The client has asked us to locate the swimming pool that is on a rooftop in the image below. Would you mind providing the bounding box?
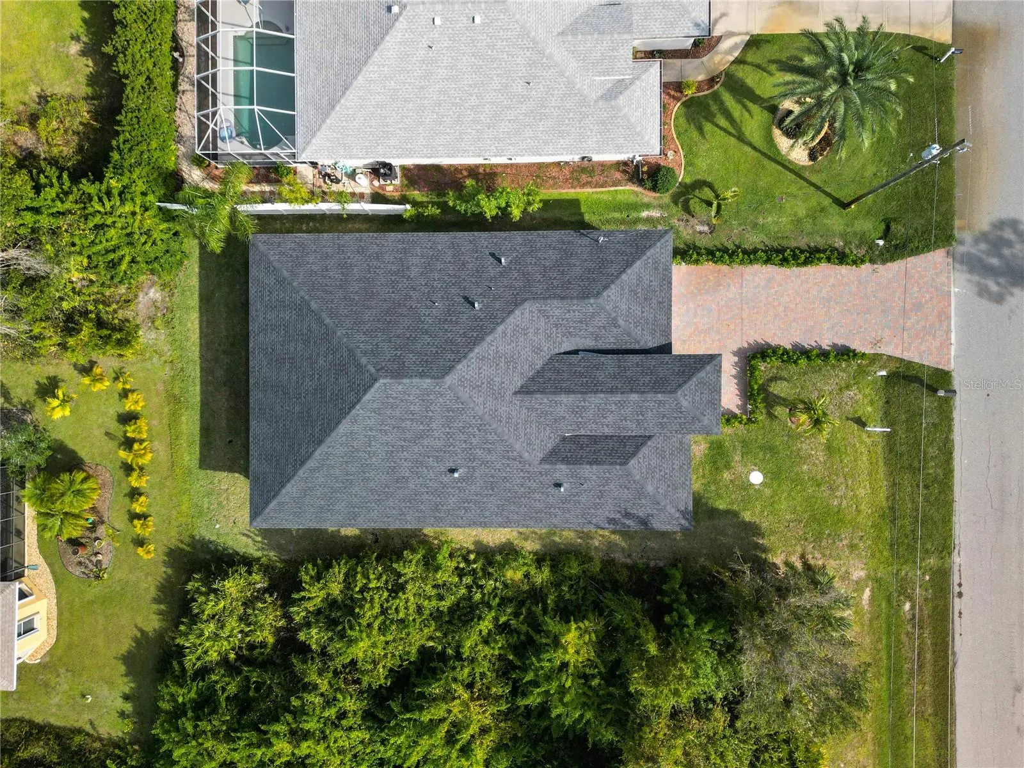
[218,0,321,166]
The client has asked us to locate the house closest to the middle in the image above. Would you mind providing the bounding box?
[248,229,724,533]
